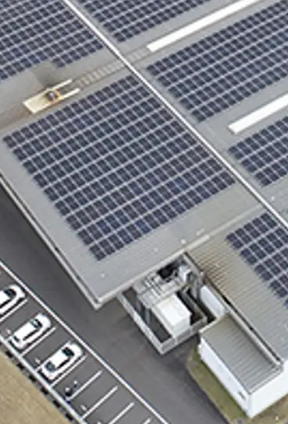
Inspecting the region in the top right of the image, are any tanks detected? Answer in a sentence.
No, I see no tank in the top right of the image.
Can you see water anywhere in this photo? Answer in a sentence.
No, the picture contains no water.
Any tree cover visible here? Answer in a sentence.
No, no tree cover is visible.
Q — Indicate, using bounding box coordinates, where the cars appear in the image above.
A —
[13,316,52,349]
[41,342,86,379]
[0,285,27,318]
